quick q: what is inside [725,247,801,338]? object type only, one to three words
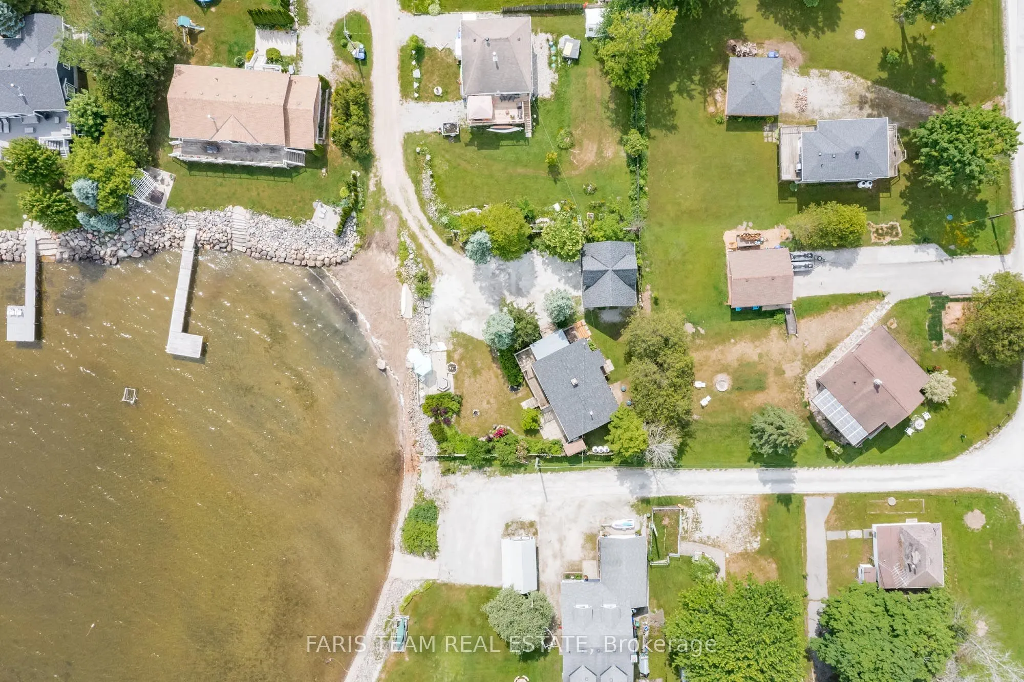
building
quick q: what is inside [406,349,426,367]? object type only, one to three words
umbrella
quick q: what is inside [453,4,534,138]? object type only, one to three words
house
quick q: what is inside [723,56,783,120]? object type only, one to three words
building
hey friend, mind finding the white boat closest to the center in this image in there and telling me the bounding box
[400,284,413,319]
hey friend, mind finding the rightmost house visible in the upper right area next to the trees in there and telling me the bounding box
[778,117,910,185]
